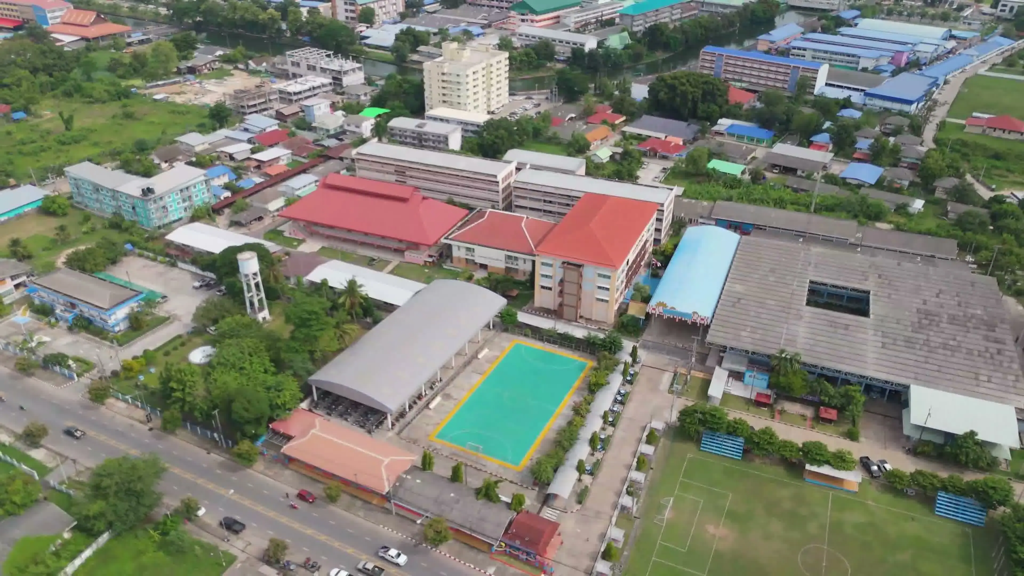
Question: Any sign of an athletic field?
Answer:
Yes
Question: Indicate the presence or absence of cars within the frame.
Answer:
Yes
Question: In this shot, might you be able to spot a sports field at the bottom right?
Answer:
Yes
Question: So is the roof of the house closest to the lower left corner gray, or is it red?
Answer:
gray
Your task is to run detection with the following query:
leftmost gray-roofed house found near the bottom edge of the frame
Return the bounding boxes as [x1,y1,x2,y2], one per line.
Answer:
[0,491,78,568]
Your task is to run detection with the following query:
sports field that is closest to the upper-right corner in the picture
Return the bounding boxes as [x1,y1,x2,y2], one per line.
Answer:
[948,74,1024,119]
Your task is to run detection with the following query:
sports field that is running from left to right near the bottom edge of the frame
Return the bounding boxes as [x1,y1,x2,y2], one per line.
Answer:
[615,427,1024,576]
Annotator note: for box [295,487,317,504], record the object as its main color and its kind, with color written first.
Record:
red car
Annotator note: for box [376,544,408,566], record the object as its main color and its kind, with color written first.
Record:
white truck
